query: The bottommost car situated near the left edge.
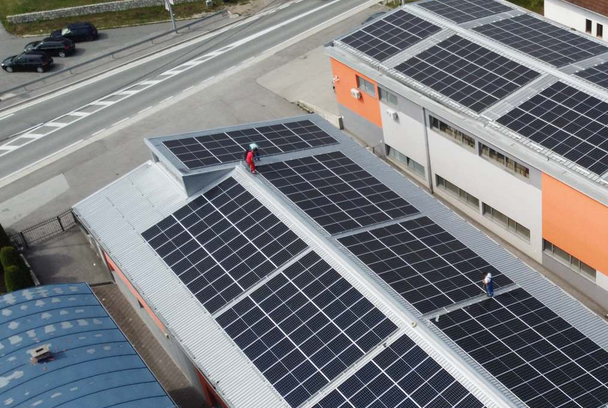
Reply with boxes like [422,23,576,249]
[1,52,53,73]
